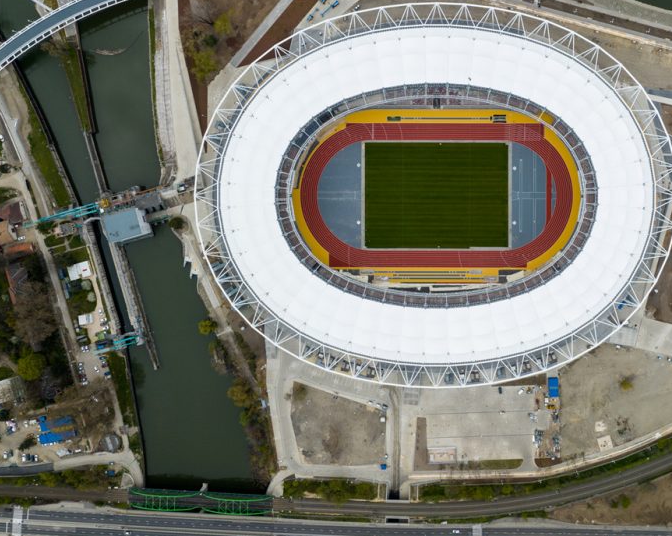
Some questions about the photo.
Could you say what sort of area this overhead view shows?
sports ground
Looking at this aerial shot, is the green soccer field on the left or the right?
right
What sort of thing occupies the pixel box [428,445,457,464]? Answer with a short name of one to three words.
building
